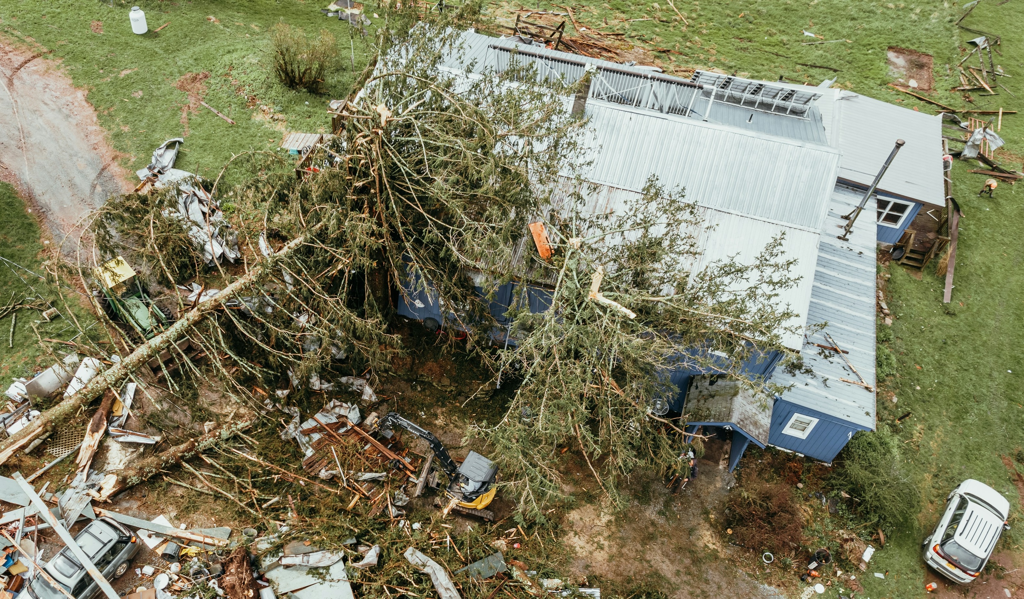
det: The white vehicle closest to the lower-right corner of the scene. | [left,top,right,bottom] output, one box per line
[922,480,1011,586]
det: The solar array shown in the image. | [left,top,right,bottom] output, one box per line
[690,68,827,120]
